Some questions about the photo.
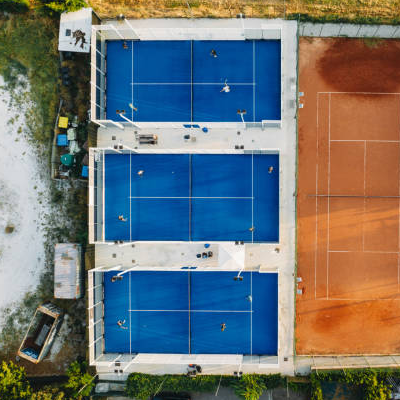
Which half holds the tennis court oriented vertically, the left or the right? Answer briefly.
right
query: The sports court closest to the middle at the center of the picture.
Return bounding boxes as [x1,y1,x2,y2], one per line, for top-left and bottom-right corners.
[89,146,282,245]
